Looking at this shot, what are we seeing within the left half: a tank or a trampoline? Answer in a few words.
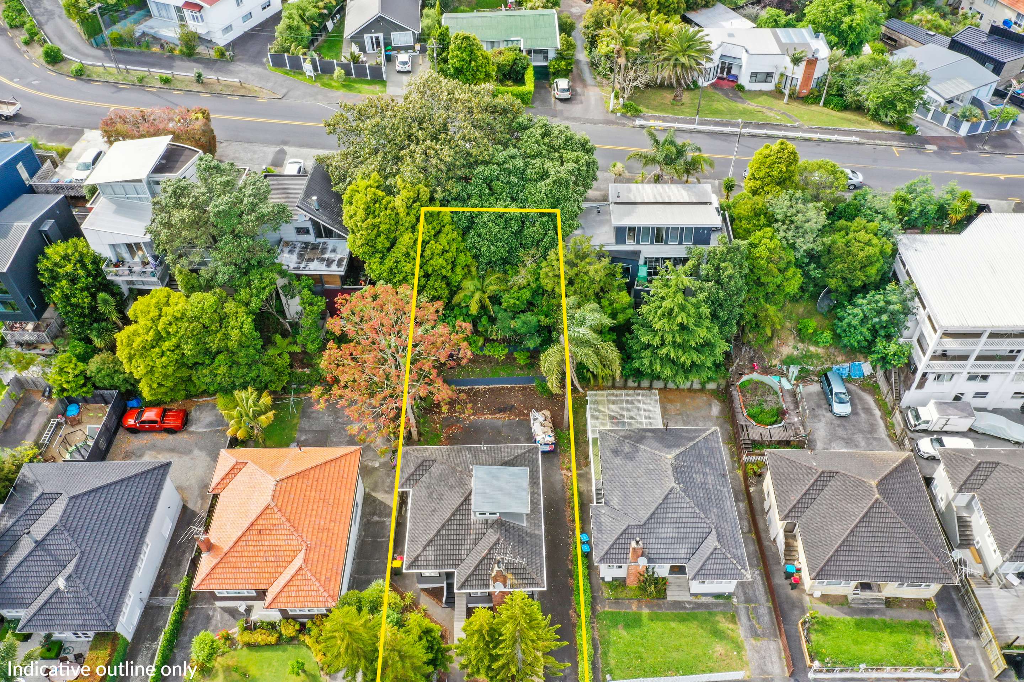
trampoline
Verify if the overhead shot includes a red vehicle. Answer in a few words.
Yes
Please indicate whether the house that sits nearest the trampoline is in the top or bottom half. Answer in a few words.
bottom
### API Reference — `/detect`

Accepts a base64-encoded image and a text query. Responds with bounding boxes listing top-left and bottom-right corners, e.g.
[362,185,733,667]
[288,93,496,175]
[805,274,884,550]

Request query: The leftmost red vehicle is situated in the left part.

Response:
[119,403,194,433]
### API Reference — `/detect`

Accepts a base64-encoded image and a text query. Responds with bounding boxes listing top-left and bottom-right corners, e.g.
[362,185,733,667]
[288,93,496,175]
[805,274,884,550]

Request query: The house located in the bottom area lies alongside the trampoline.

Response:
[0,461,182,652]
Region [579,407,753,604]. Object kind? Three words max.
house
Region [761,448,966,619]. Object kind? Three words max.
house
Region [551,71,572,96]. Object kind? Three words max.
car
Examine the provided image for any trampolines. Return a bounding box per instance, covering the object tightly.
[50,428,96,461]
